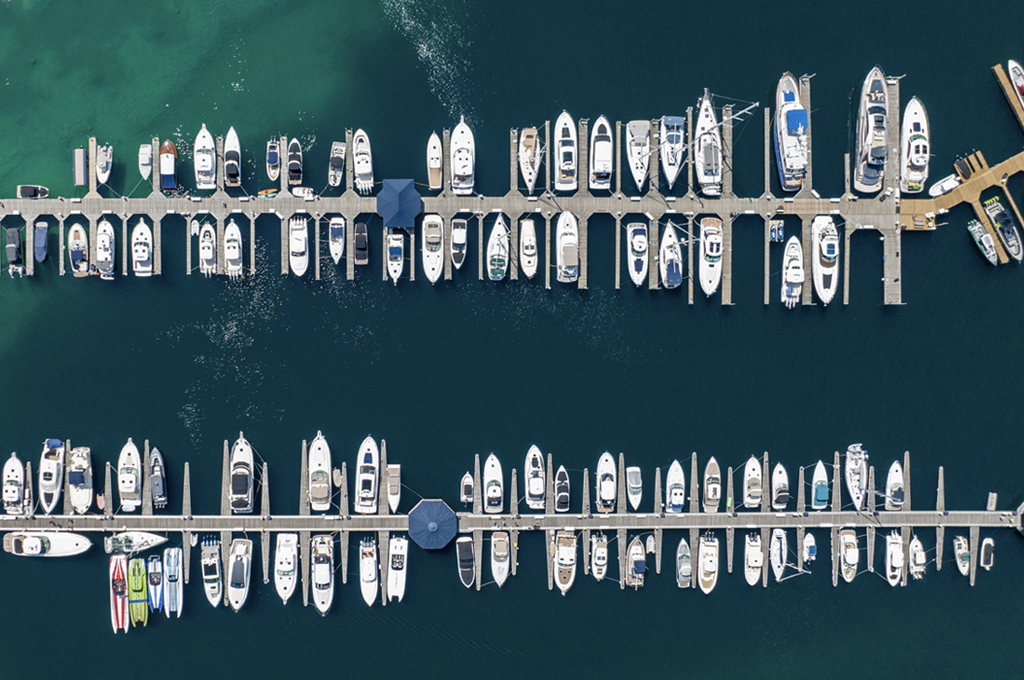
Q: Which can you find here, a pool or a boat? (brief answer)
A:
boat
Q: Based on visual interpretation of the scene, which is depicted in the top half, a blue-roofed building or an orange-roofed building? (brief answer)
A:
blue-roofed building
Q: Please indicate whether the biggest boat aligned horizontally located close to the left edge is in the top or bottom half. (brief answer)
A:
bottom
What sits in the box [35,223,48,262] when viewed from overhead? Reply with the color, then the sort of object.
blue boat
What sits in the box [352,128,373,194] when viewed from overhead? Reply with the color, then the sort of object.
white boat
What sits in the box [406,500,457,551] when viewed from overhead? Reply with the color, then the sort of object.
blue gazebo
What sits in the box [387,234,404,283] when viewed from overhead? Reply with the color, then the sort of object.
white boat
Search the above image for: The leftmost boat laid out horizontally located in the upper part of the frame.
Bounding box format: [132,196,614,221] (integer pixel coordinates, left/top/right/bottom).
[18,185,49,198]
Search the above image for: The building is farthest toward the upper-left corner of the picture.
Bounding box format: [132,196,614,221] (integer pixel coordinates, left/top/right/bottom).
[374,178,424,229]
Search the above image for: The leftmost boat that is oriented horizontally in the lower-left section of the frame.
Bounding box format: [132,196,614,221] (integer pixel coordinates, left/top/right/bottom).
[5,530,91,556]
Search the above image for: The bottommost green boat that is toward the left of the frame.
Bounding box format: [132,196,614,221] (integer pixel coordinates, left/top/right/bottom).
[129,557,149,627]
